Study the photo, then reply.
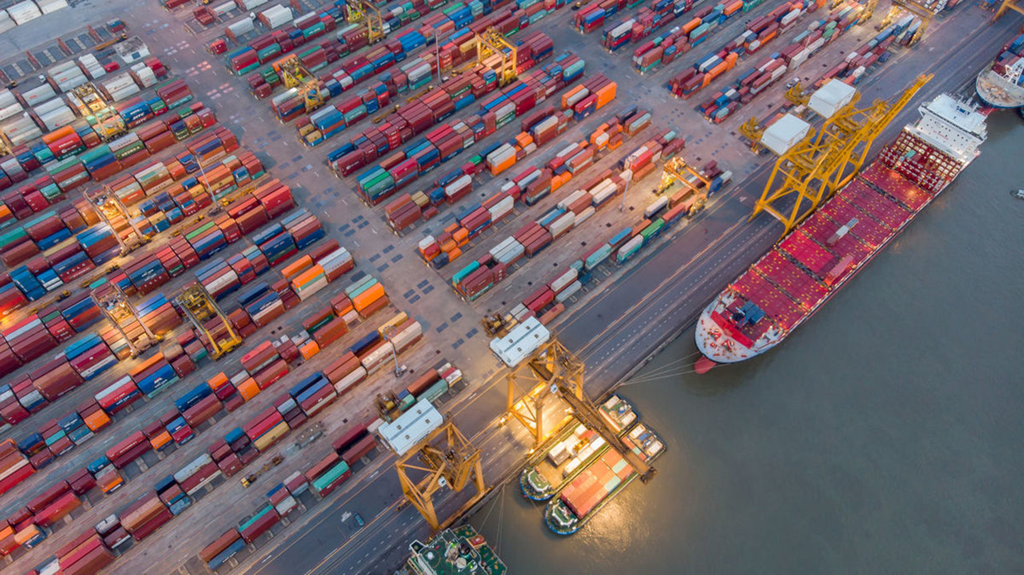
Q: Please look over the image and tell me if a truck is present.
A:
Yes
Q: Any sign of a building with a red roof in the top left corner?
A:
No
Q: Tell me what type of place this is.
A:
port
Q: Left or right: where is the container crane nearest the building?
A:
left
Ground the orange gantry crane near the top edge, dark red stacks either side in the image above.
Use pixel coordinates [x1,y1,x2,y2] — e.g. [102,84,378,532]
[344,0,391,46]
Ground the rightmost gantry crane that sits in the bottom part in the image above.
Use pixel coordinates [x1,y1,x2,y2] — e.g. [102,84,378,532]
[486,313,668,489]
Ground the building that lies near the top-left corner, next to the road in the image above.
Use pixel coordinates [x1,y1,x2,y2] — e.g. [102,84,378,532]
[113,35,149,62]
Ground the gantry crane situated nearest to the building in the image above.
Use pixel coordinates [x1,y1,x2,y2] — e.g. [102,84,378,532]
[66,75,133,145]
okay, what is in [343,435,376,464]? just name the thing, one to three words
shipping container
